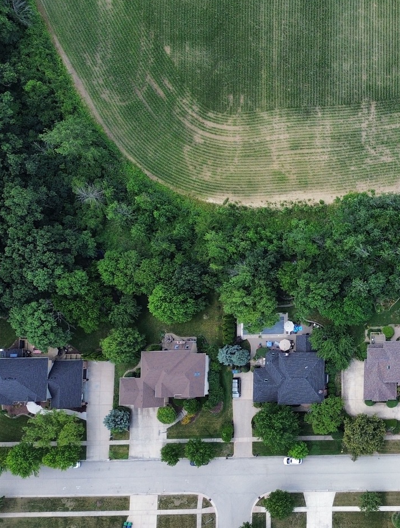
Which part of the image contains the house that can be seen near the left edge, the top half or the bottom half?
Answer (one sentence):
The bottom half of the photo is where the house that can be seen near the left edge is.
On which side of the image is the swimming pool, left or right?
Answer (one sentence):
It is on the right.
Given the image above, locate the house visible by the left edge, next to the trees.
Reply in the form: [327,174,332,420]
[0,347,93,408]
